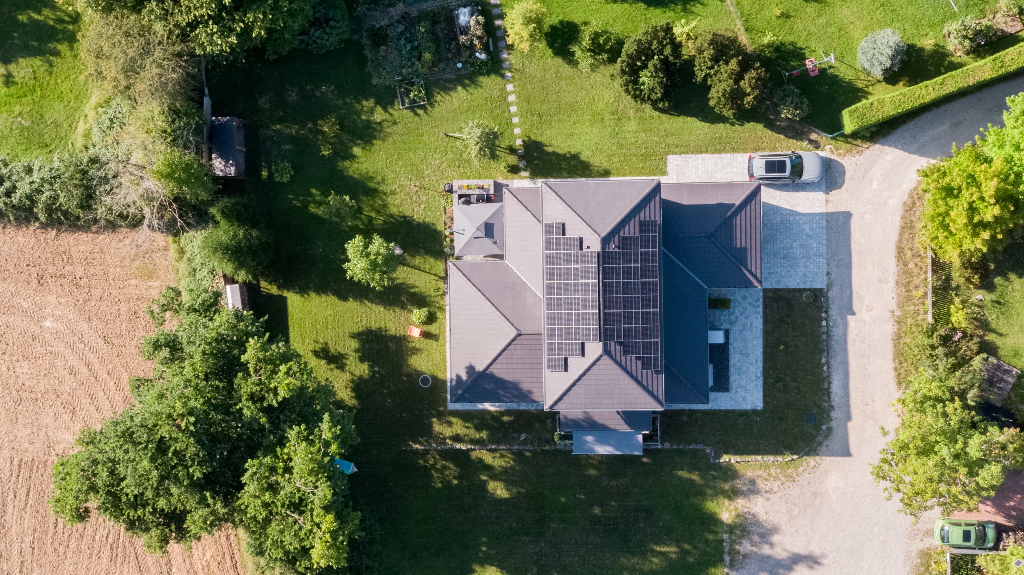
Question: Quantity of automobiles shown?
2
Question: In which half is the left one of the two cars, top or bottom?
top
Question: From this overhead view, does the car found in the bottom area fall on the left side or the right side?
right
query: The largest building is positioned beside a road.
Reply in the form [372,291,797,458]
[447,177,764,413]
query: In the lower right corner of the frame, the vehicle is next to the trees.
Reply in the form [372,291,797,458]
[931,517,996,554]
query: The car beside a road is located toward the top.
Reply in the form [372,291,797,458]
[747,148,823,183]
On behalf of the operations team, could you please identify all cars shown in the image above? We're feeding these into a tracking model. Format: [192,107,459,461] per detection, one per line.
[747,148,823,183]
[931,517,996,554]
